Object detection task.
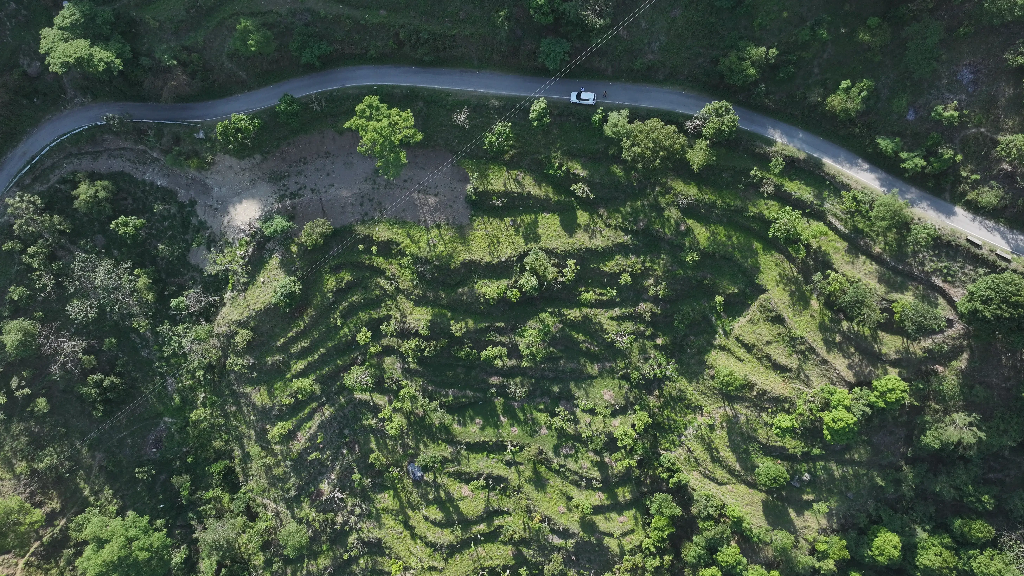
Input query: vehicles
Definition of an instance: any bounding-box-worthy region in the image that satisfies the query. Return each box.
[569,91,596,107]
